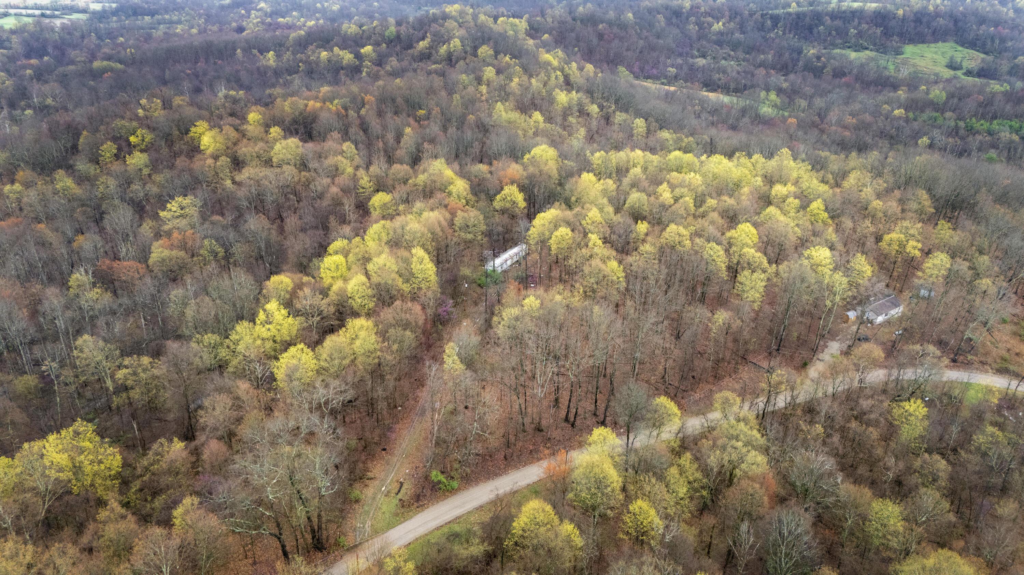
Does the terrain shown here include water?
No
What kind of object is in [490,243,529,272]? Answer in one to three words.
house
